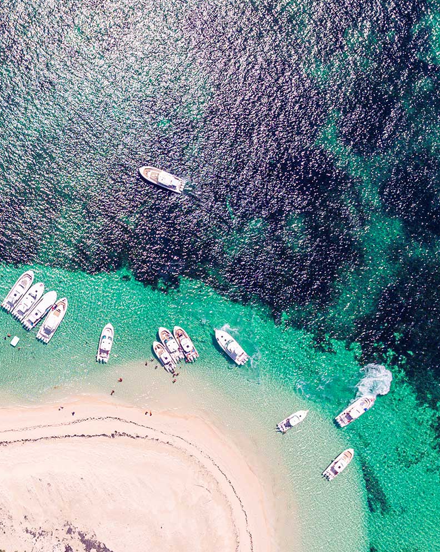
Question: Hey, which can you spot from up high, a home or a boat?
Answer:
boat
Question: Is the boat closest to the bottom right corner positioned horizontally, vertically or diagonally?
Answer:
diagonally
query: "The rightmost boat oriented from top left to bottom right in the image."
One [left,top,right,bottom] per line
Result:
[214,328,249,367]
